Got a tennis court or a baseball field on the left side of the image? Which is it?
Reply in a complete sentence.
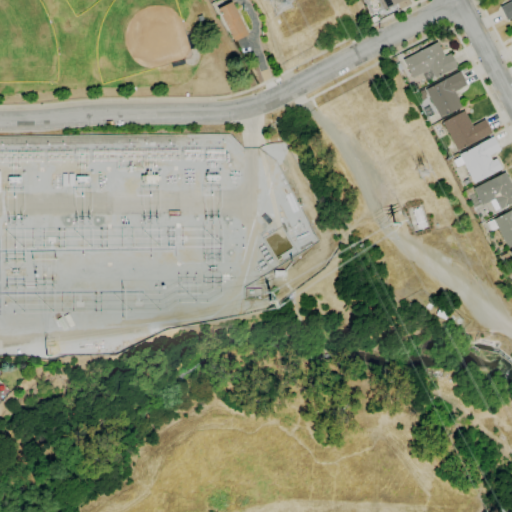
There is a baseball field on the left side of the image.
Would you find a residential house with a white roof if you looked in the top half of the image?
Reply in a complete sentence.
Yes, a residential house with a white roof is visible in the top half of the image.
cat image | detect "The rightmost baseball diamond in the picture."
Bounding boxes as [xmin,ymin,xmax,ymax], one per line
[97,0,200,83]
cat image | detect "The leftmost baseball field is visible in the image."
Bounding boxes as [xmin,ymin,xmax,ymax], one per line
[0,0,60,82]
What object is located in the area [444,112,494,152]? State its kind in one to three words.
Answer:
house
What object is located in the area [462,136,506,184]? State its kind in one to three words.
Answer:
house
